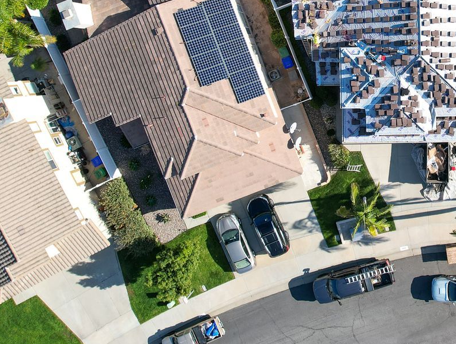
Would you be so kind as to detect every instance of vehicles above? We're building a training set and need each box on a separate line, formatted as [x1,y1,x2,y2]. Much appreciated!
[250,193,290,259]
[216,210,256,274]
[431,273,456,307]
[312,256,399,302]
[162,312,230,344]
